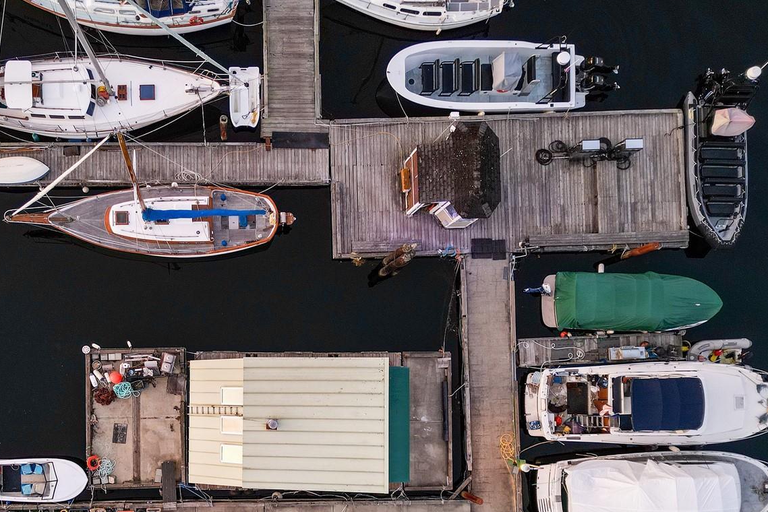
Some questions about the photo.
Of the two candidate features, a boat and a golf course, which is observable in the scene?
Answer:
boat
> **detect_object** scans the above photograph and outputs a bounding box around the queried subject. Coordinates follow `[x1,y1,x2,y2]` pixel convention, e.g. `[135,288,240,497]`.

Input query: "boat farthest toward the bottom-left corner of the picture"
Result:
[0,457,88,501]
